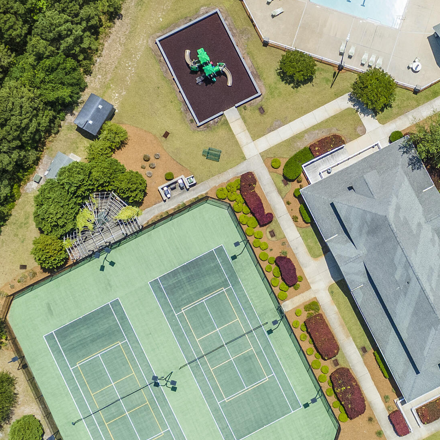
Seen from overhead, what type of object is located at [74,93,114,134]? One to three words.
shed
